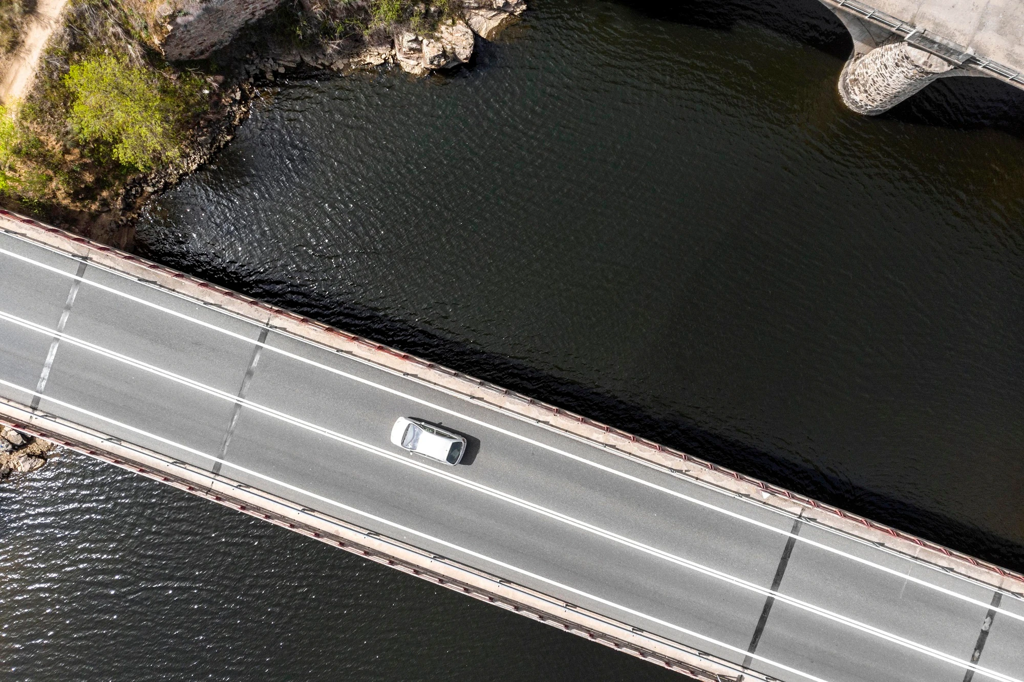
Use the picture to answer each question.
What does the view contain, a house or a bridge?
bridge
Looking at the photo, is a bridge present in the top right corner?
Yes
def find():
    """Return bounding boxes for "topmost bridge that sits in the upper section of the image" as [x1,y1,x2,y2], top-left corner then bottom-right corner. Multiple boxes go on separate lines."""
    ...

[819,0,1024,117]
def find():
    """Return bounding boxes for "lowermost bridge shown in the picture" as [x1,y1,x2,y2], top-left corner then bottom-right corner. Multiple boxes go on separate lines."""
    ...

[0,206,1024,682]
